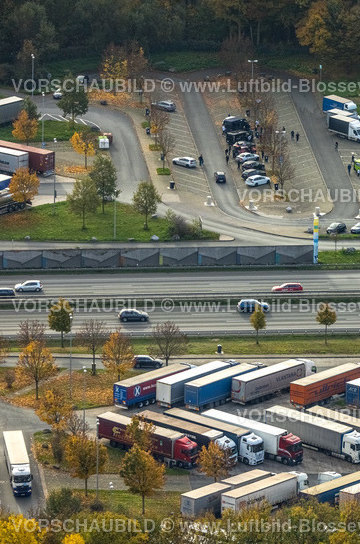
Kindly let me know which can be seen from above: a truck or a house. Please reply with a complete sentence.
There is a truck in the scene.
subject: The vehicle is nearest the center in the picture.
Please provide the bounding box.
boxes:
[118,308,150,322]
